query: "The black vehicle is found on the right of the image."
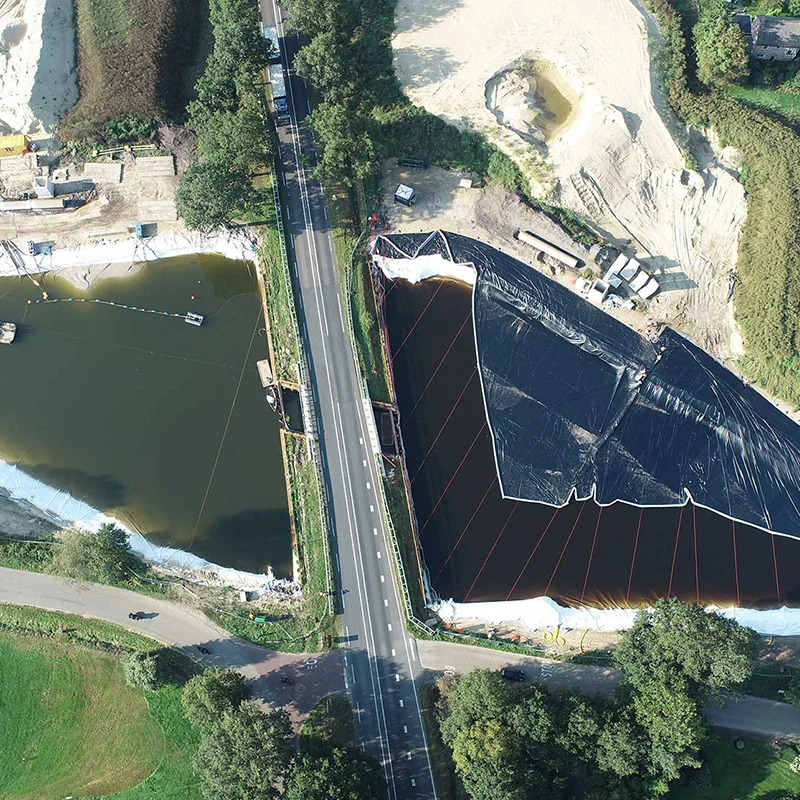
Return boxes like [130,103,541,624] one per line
[500,667,524,682]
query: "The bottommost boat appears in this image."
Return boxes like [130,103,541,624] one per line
[265,386,277,411]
